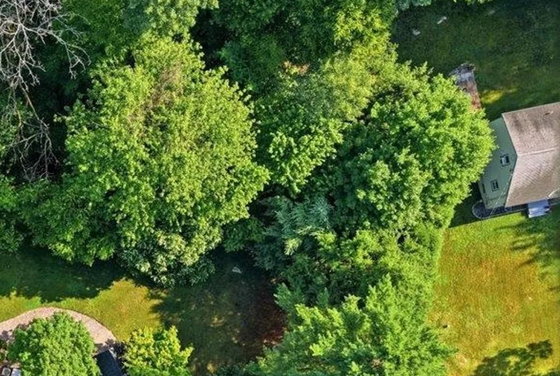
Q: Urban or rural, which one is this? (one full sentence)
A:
The land in this view is best described as rural.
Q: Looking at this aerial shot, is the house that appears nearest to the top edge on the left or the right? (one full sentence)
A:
You can find the house that appears nearest to the top edge on the right side of the picture.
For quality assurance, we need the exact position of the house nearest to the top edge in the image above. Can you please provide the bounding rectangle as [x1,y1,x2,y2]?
[476,104,560,210]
